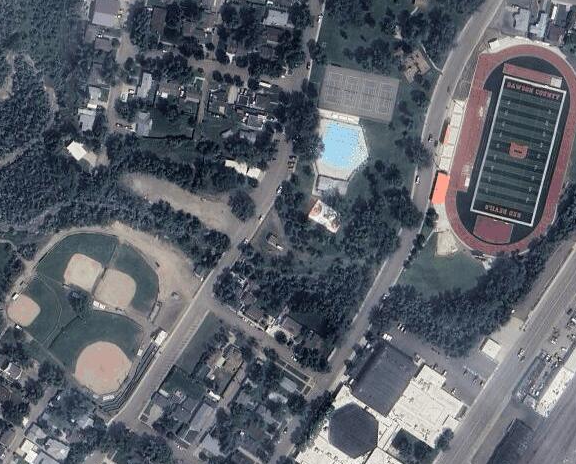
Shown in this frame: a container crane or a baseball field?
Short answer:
baseball field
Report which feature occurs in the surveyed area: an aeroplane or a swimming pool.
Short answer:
swimming pool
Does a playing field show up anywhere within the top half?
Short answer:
Yes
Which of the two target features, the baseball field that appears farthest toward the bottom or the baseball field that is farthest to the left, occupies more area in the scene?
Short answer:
the baseball field that appears farthest toward the bottom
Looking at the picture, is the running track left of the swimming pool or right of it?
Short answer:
right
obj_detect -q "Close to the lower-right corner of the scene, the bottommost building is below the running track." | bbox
[489,419,536,464]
